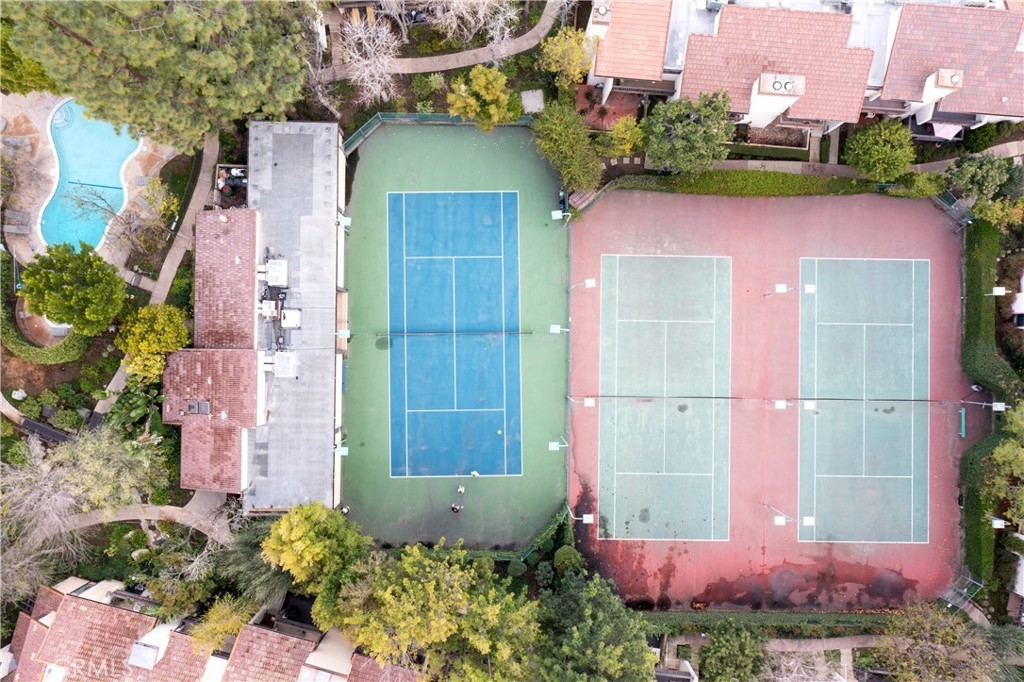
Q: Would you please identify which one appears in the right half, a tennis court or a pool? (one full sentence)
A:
There is a tennis court in the right half.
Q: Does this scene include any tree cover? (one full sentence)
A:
Yes, tree cover can be seen from above here.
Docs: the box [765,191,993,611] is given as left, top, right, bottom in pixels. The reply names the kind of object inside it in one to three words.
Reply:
tennis court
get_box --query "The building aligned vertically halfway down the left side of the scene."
[161,121,349,513]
